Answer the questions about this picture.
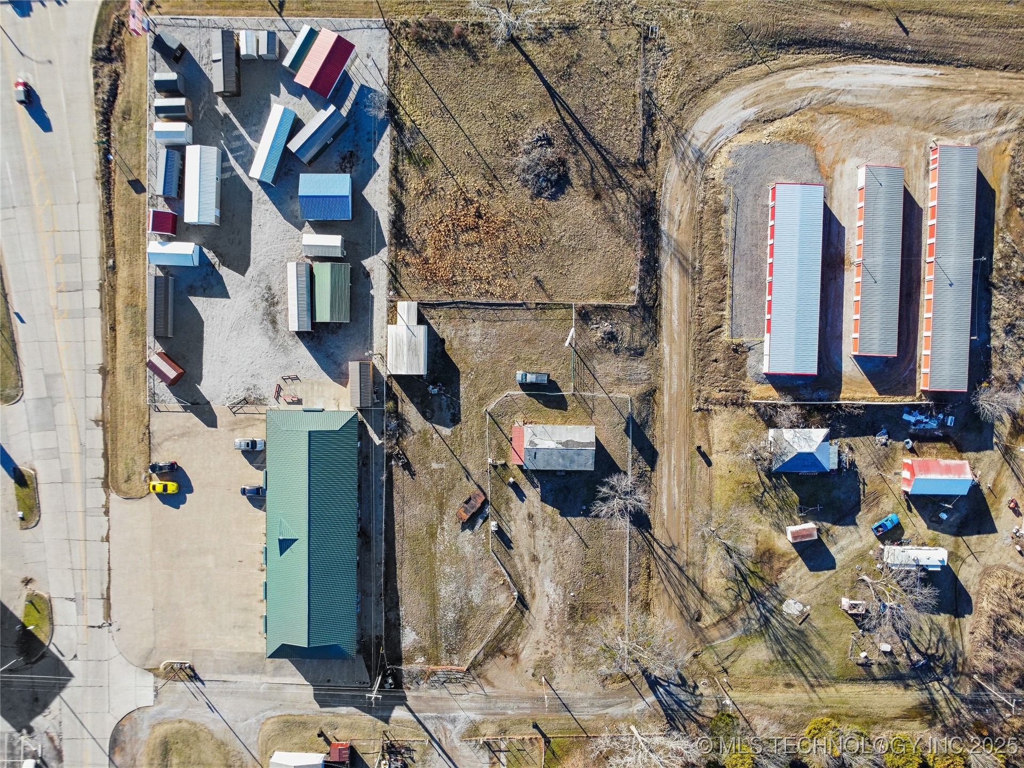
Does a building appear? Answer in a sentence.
Yes, the picture does show a building.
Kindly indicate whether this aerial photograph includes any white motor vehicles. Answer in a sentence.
Yes, a white motor vehicle can be made out from above.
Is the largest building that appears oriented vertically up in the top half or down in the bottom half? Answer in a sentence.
The largest building that appears oriented vertically is in the bottom half of the image.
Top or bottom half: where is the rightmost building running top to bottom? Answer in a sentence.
You can find the rightmost building running top to bottom in the top half.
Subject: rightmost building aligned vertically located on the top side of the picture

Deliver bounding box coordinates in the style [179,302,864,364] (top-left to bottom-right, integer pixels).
[916,145,978,391]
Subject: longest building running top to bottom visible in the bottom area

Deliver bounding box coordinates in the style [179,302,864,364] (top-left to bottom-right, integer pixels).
[263,407,358,659]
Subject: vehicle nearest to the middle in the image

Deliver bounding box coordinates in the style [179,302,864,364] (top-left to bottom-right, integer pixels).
[516,371,549,384]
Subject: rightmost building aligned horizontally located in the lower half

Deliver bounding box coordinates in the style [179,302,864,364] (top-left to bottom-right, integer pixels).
[897,458,977,495]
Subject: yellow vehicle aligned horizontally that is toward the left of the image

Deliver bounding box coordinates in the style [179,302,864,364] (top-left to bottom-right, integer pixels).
[147,480,178,494]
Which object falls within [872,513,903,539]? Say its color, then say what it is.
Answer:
blue truck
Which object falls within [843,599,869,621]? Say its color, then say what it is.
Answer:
white truck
